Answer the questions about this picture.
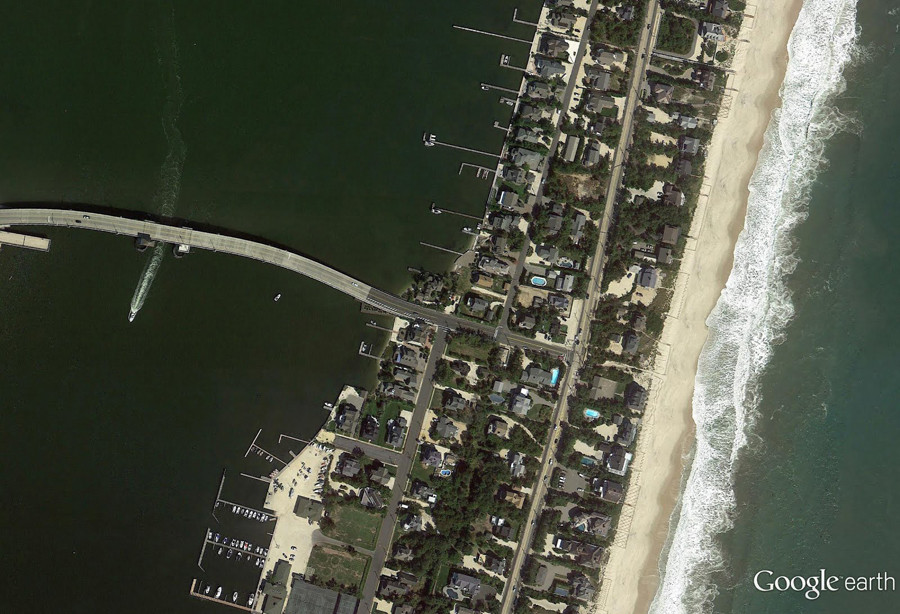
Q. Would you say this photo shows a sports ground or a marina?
marina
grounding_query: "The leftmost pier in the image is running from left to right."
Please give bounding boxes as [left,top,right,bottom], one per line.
[0,229,51,251]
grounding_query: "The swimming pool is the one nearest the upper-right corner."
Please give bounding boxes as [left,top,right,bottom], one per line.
[556,256,573,269]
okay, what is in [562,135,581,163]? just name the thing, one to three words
house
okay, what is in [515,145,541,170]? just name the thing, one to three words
house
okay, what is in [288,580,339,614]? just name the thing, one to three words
shed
